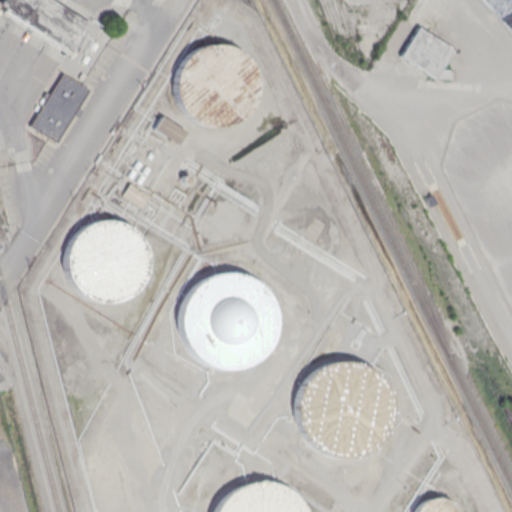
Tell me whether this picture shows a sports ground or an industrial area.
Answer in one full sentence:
This image shows an industrial area.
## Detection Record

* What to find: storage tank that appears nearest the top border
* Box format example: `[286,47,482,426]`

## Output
[172,45,262,132]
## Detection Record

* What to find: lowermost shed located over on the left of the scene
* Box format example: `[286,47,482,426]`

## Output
[122,184,151,208]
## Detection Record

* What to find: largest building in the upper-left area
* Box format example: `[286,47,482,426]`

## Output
[28,72,92,146]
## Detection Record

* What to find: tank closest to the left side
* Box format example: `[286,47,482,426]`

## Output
[61,220,153,310]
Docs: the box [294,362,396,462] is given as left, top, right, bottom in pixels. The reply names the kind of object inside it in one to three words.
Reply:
storage tank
